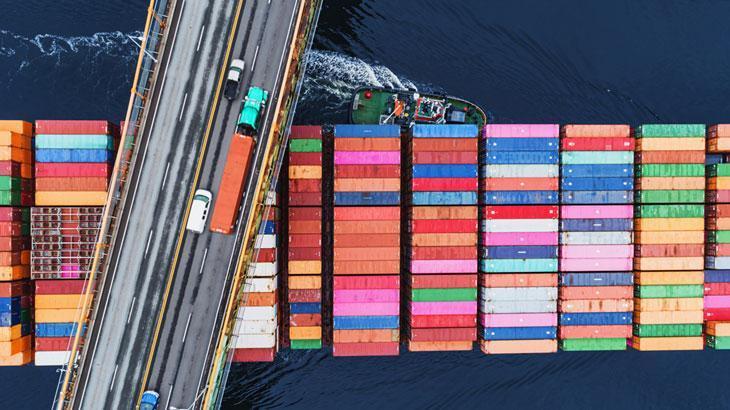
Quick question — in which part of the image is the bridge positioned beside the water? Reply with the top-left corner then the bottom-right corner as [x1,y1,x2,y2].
[51,0,324,410]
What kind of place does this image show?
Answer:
port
